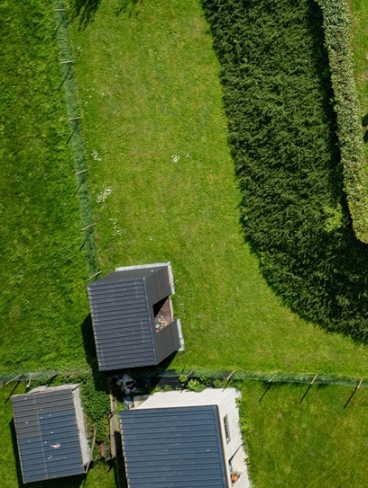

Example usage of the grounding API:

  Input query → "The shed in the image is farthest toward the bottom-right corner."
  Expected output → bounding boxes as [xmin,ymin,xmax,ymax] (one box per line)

[120,390,251,488]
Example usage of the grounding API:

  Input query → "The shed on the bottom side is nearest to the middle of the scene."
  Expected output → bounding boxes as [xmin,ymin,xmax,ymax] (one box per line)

[87,267,186,370]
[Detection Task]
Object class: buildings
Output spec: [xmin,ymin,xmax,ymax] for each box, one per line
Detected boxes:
[120,390,251,488]
[87,267,186,370]
[10,383,97,483]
